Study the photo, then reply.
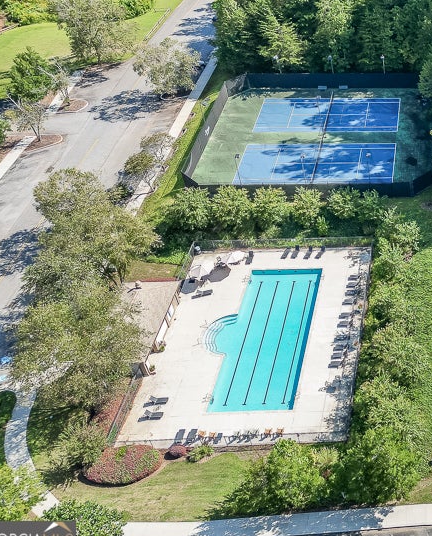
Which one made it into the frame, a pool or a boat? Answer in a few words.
pool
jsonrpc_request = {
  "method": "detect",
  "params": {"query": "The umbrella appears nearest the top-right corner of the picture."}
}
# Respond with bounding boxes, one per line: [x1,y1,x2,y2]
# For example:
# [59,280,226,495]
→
[222,249,248,272]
